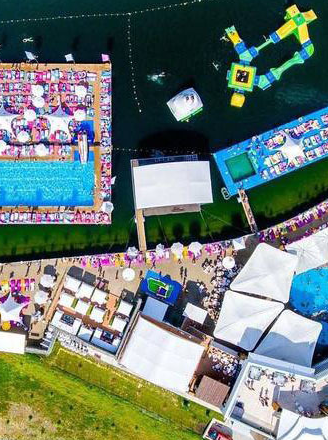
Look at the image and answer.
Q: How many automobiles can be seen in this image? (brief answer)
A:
0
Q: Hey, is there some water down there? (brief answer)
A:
Yes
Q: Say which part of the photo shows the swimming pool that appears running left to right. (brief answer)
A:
left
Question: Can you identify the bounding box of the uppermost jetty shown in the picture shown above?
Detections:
[212,107,328,198]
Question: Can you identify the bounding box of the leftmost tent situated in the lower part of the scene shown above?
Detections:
[0,291,30,326]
